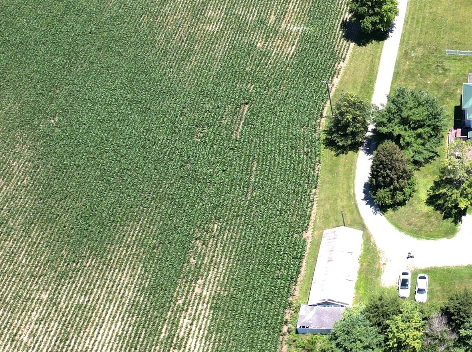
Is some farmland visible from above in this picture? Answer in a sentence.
Yes, farmland can be seen from above here.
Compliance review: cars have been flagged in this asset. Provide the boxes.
[413,273,429,305]
[397,268,411,299]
